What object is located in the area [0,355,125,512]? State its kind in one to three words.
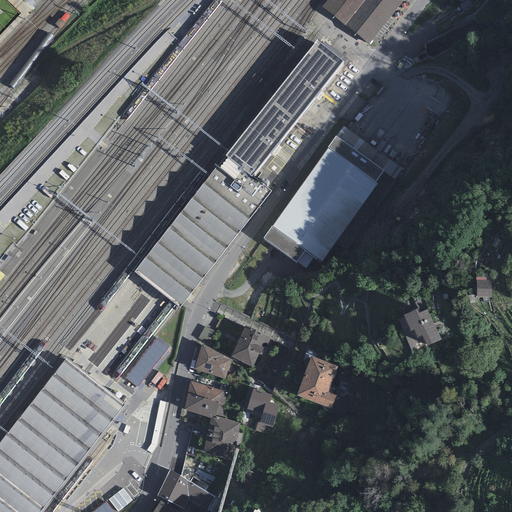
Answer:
building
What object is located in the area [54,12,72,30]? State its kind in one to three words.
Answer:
rail car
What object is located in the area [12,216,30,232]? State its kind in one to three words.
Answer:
vehicle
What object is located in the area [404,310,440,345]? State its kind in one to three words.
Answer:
house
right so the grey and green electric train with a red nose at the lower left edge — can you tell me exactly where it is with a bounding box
[0,342,44,404]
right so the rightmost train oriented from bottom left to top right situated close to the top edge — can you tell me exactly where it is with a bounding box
[118,0,222,124]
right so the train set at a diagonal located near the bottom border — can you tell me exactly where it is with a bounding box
[43,456,93,512]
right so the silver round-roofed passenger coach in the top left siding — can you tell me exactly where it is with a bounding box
[8,32,56,89]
